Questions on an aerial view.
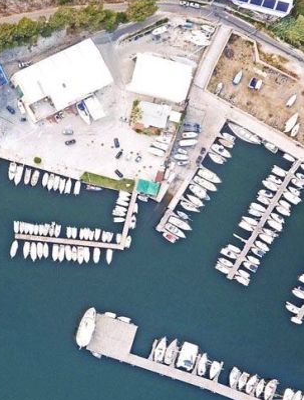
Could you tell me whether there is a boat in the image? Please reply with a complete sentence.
Yes, a boat appears in the view.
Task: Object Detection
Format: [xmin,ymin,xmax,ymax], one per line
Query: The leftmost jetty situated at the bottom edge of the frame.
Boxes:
[87,313,275,400]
